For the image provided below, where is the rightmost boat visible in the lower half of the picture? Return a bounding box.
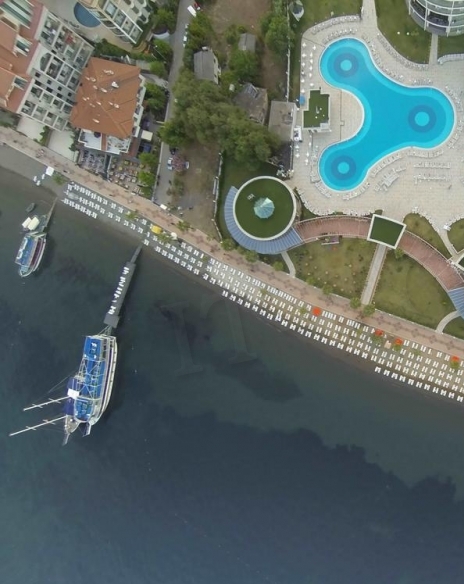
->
[75,325,123,444]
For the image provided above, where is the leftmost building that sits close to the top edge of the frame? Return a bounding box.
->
[0,0,94,135]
